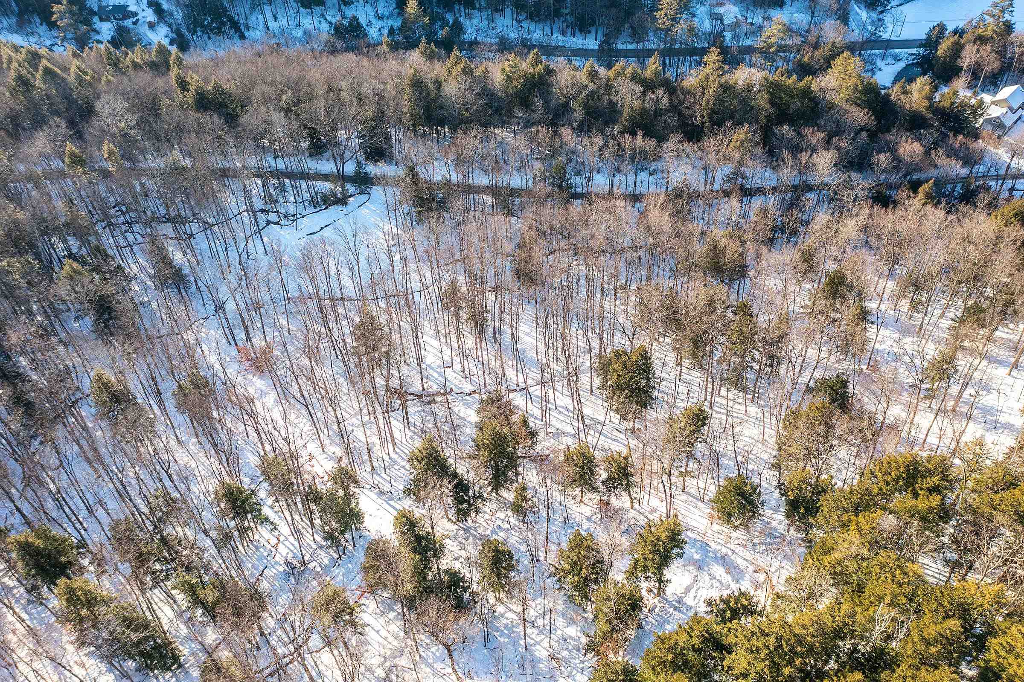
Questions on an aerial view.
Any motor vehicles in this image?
No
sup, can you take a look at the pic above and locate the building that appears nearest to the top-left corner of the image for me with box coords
[96,5,139,21]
